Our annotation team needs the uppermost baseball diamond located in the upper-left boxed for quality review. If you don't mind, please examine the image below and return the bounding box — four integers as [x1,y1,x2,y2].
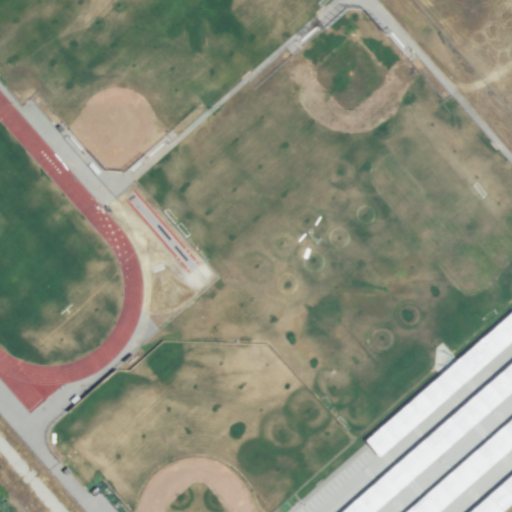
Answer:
[66,87,167,170]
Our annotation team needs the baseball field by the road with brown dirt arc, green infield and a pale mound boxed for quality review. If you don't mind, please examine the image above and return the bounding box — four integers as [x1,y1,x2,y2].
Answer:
[287,34,416,133]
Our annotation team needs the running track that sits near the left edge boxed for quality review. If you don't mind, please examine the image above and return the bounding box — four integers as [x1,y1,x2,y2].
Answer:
[0,90,143,412]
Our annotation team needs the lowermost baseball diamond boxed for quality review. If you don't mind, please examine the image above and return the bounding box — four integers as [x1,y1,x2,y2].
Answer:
[137,457,254,512]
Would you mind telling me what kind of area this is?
sports ground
